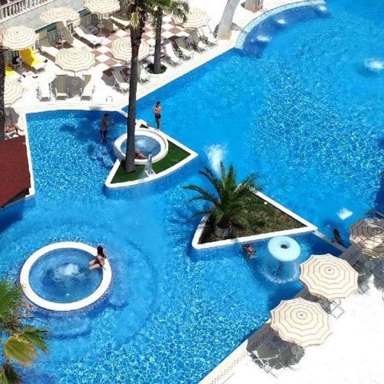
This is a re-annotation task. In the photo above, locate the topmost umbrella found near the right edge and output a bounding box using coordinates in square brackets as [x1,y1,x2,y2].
[341,217,384,278]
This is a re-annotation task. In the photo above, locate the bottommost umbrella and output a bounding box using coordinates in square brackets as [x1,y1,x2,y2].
[273,298,337,354]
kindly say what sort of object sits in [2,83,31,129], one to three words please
umbrella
